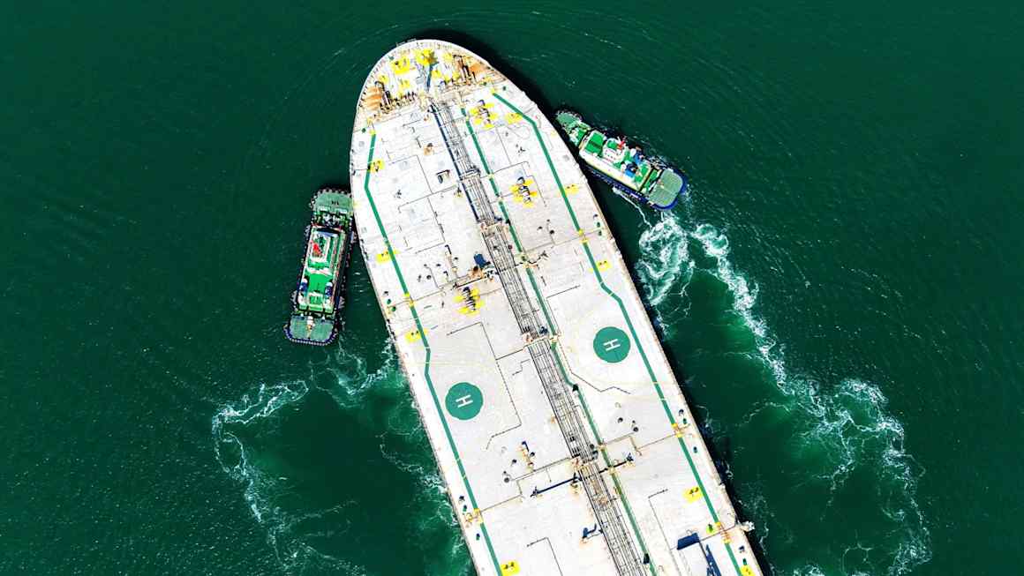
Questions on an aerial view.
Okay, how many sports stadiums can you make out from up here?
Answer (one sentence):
The picture shows no sports stadiums.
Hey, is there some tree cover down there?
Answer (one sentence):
No, there is no tree cover in the image.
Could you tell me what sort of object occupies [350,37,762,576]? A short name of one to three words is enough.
ship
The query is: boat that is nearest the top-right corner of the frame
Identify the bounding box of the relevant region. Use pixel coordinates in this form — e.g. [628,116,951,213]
[551,110,691,219]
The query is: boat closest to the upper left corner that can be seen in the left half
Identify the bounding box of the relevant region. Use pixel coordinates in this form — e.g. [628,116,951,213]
[289,187,355,346]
